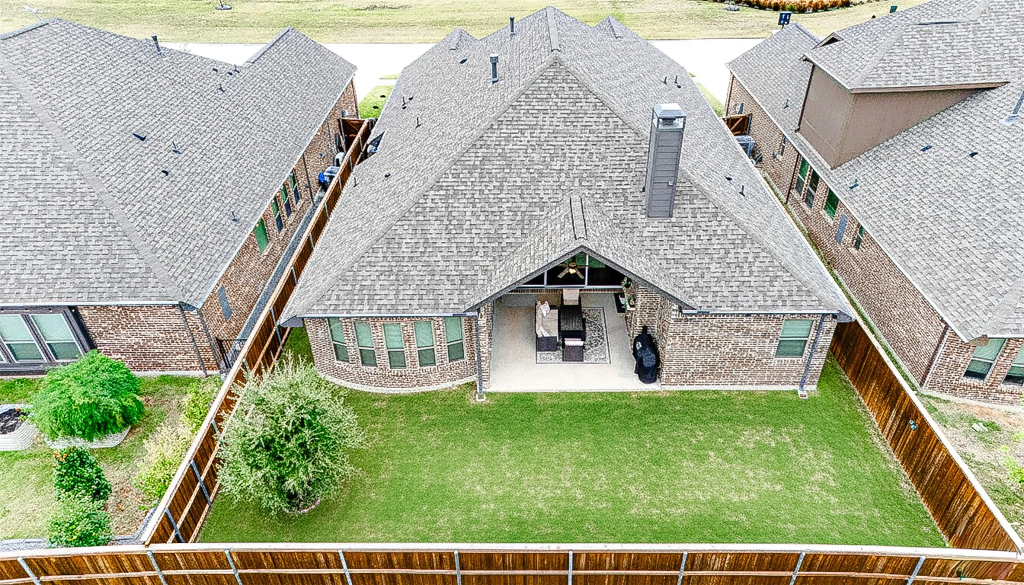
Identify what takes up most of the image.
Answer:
buildings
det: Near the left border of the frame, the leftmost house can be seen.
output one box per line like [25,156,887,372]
[0,15,355,379]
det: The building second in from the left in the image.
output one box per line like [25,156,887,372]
[277,4,866,395]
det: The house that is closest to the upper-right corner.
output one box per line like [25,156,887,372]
[723,0,1024,416]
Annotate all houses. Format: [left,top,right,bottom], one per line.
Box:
[723,0,1024,416]
[277,4,866,395]
[0,15,355,379]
